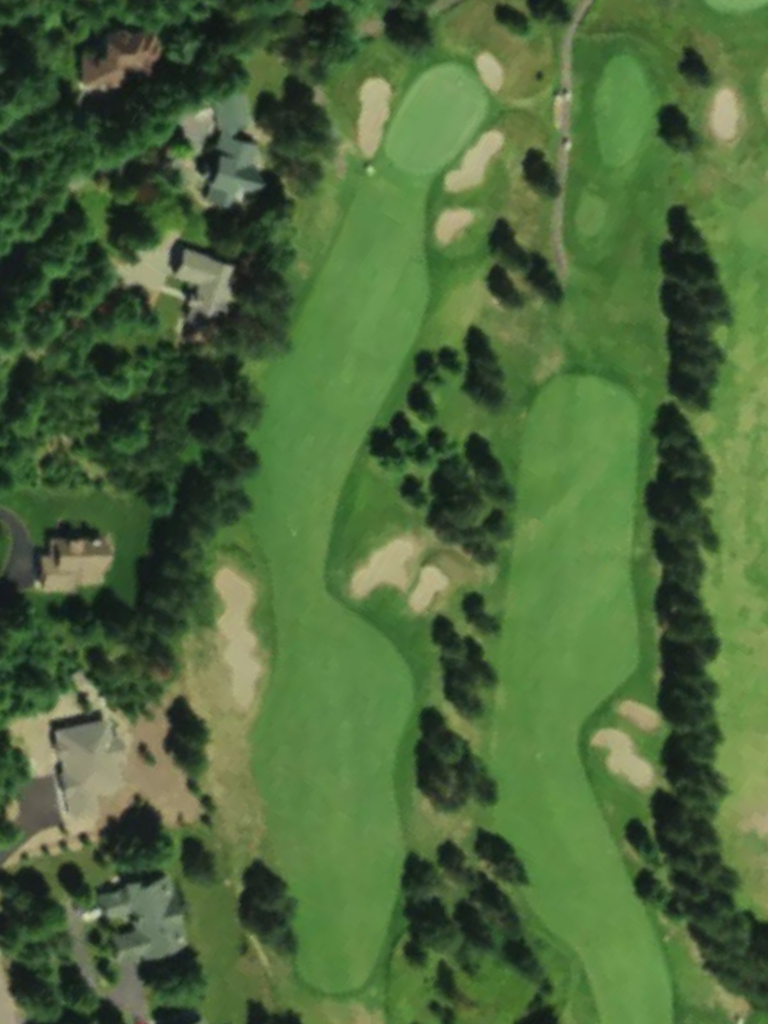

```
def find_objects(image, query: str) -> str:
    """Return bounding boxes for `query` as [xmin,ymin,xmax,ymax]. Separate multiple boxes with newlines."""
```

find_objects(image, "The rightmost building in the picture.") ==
[205,93,268,206]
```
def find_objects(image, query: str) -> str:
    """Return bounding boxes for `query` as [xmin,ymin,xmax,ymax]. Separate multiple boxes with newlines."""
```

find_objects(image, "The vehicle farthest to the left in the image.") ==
[83,908,102,921]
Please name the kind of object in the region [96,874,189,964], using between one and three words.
house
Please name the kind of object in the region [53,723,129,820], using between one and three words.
house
